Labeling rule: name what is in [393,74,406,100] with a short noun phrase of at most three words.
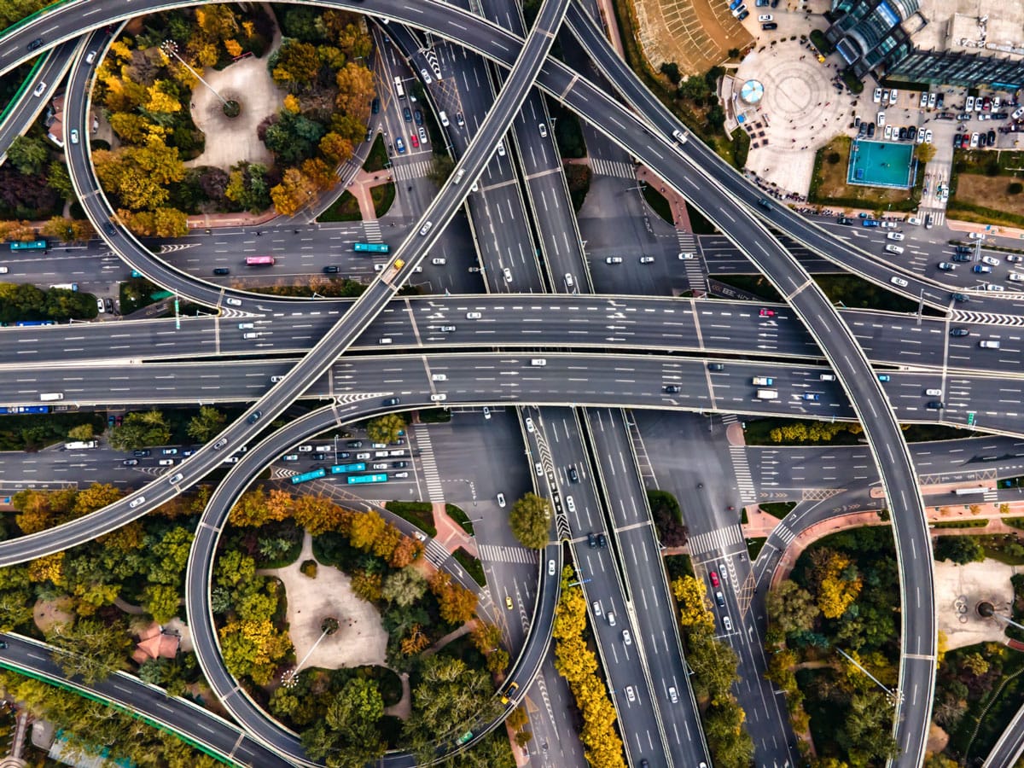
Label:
vehicle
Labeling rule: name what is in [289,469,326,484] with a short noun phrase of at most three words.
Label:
vehicle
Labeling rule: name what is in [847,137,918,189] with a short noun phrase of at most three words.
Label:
sports court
